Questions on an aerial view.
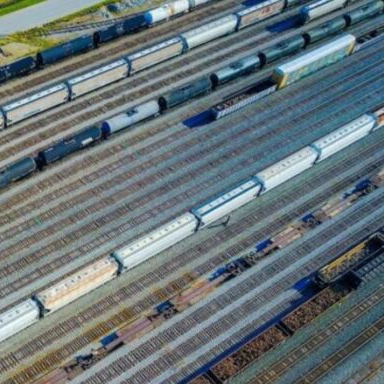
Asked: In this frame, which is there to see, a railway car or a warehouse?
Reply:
railway car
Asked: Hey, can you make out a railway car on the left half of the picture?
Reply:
Yes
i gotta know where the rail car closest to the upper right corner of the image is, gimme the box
[348,0,384,28]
